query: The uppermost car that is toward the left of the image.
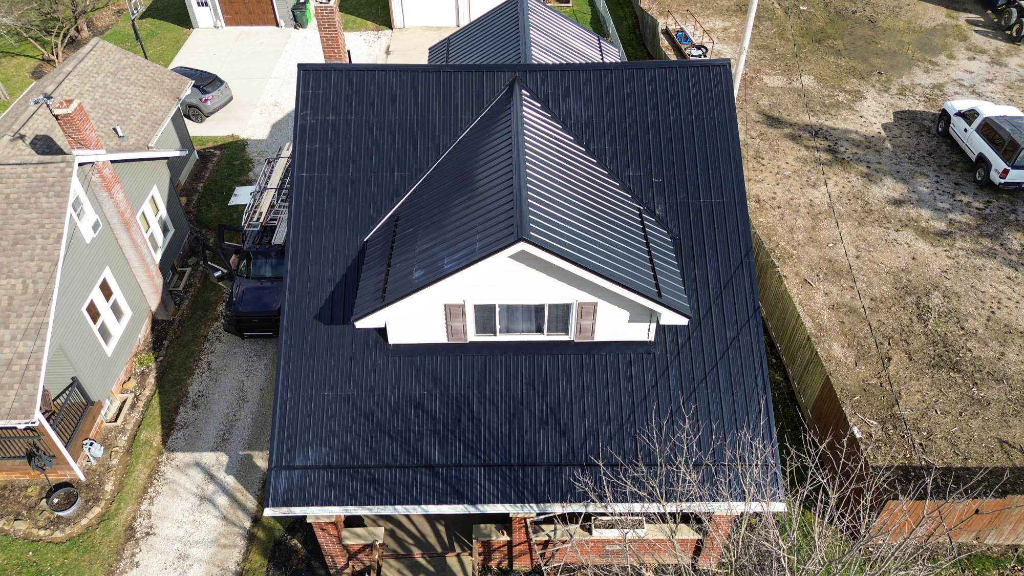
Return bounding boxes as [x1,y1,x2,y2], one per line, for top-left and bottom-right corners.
[173,67,237,122]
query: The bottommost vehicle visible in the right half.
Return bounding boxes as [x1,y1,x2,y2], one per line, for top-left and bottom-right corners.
[935,100,1024,193]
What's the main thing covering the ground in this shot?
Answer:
buildings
